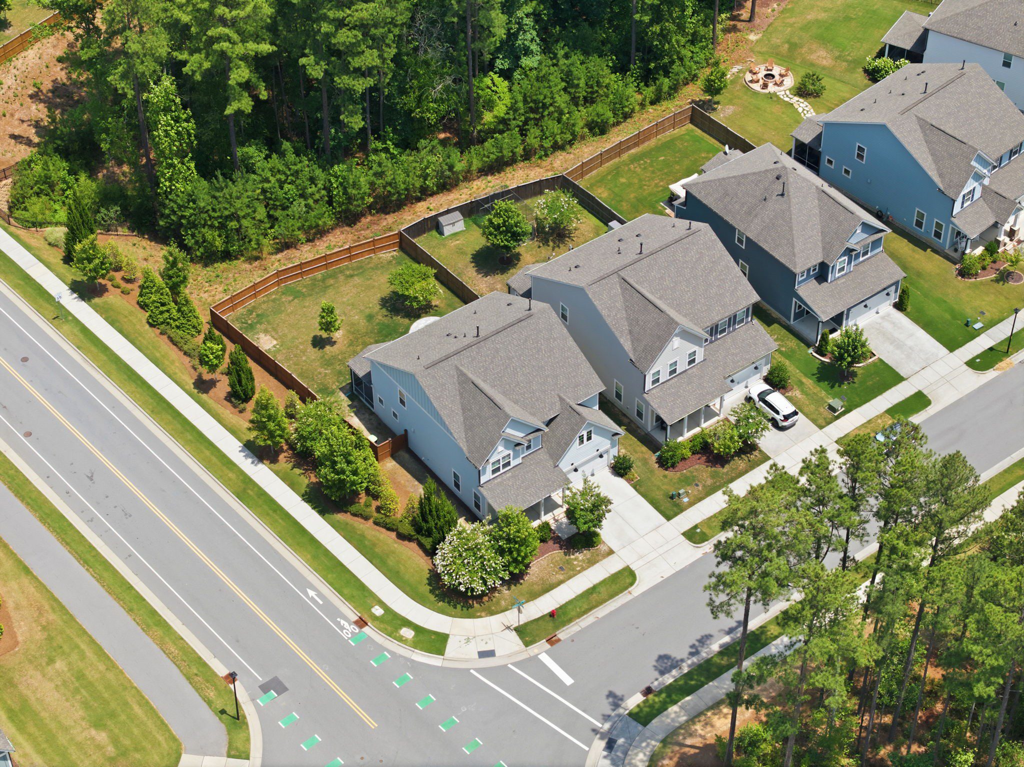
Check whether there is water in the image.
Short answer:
No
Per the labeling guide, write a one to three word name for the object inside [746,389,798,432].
car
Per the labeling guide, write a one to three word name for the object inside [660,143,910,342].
house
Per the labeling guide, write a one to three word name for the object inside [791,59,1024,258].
house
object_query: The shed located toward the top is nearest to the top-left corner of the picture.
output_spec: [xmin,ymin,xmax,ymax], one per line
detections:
[441,209,471,242]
